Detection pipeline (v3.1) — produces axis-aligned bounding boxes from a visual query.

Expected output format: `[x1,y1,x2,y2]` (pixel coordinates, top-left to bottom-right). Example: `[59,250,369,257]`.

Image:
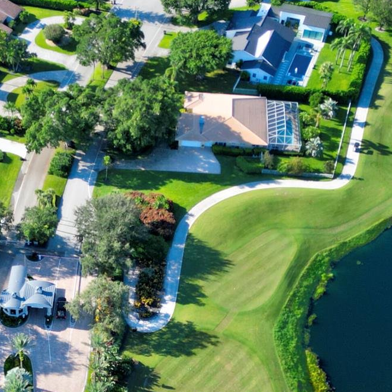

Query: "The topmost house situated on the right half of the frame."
[226,4,333,86]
